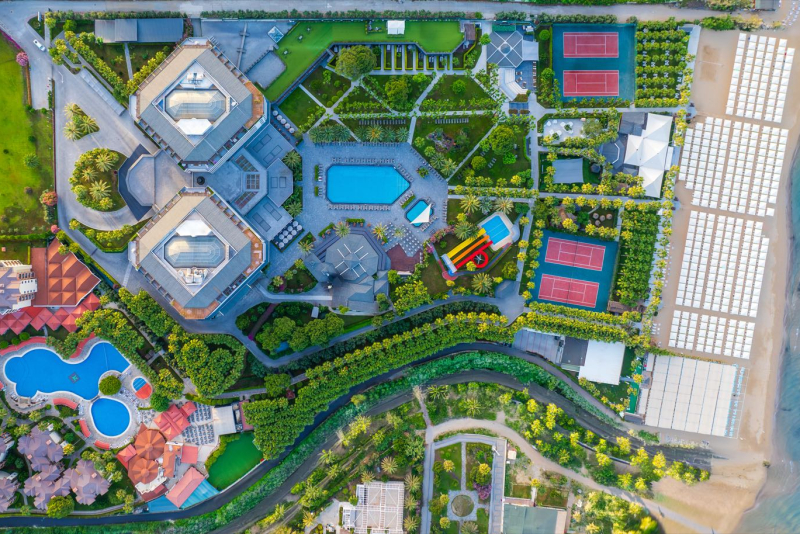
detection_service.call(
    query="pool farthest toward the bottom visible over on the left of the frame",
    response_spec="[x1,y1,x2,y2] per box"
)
[89,396,133,438]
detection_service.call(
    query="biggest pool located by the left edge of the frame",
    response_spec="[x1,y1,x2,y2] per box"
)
[2,340,132,402]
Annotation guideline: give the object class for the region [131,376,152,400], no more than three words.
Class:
swimming pool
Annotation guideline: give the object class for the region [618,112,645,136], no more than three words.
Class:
building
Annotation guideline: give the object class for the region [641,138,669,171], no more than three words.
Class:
tent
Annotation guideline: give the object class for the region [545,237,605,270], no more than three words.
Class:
tennis court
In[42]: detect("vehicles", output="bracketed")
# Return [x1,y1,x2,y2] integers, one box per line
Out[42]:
[31,38,45,52]
[36,11,41,21]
